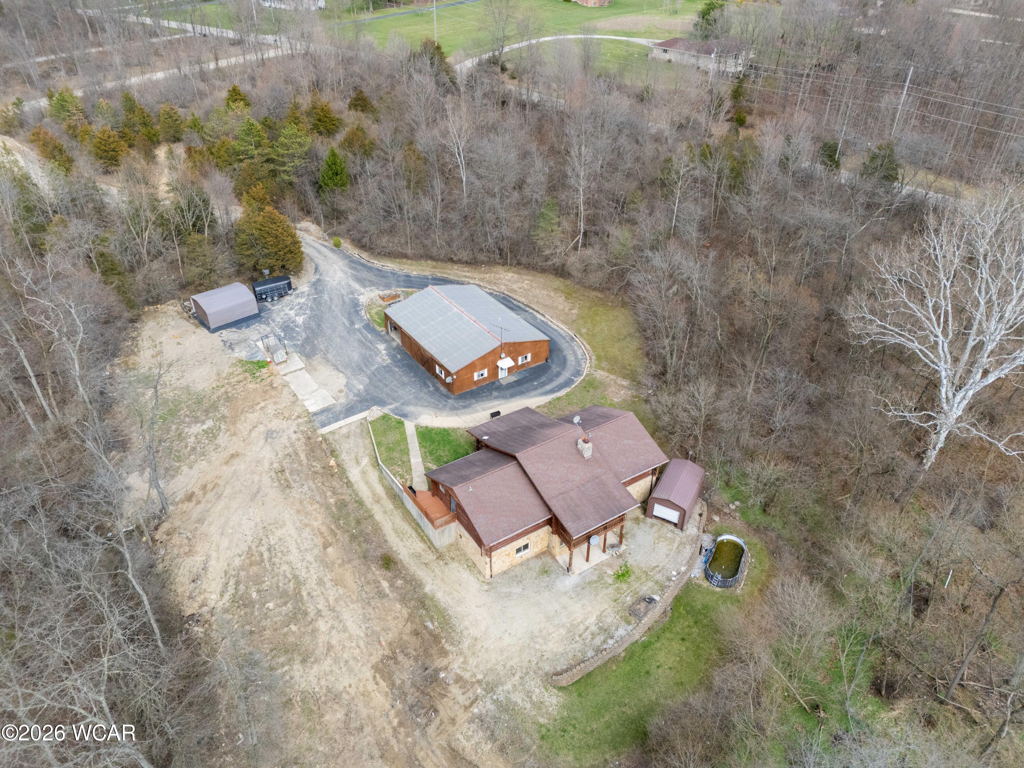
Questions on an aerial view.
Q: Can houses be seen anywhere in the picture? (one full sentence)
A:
Yes, I can see a house in this picture.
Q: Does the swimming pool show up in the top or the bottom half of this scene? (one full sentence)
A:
It is in the bottom half that the swimming pool appears.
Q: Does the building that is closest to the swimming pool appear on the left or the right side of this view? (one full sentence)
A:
It is on the right.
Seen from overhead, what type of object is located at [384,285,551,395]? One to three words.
building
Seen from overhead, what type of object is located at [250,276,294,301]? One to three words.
trailer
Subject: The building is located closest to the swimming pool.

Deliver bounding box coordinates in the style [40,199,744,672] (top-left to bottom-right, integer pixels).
[647,456,709,530]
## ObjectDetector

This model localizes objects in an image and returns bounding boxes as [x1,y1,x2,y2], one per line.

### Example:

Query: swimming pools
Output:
[703,533,751,589]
